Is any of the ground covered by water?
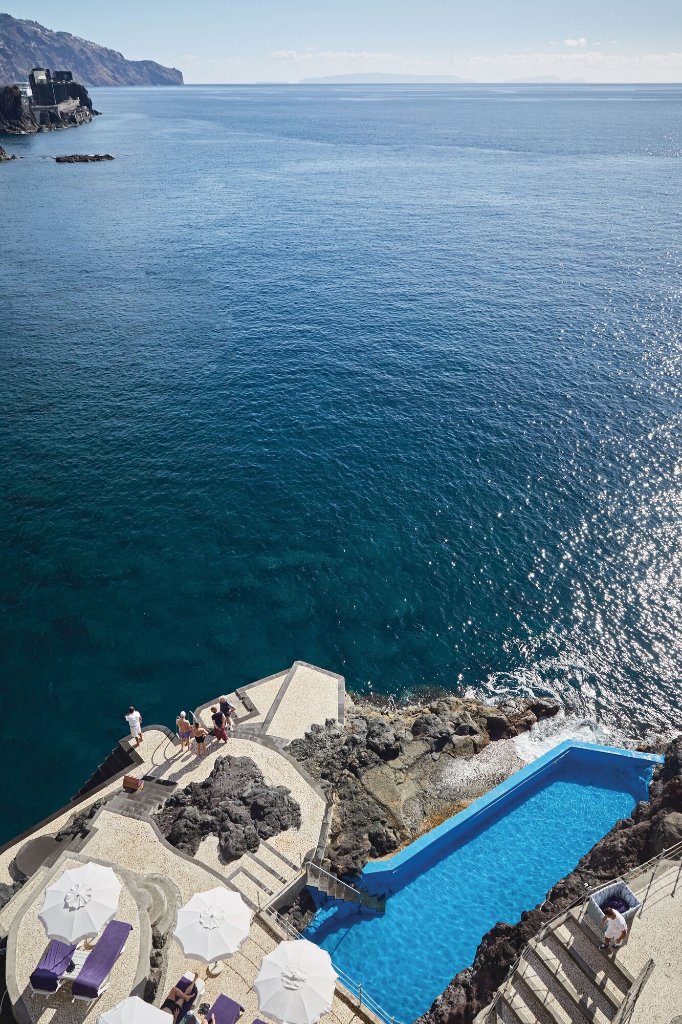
Yes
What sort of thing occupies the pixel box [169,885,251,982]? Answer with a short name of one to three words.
umbrella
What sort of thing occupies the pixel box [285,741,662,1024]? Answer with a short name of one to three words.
swimming pool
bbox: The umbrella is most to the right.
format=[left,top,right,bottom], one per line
[256,937,341,1024]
